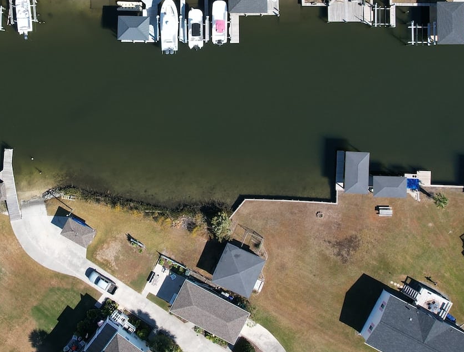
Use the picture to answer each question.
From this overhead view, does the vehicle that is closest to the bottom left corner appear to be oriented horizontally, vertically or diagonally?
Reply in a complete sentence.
The vehicle that is closest to the bottom left corner runs diagonally in the image.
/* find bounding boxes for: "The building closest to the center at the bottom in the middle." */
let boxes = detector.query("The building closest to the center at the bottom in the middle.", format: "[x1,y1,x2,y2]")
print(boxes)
[212,241,266,299]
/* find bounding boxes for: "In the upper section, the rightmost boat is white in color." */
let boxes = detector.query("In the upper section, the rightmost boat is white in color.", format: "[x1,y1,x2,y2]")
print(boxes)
[212,0,227,49]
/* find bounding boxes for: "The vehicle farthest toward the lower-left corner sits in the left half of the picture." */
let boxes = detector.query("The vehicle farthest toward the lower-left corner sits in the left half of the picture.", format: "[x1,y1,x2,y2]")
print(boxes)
[86,266,120,296]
